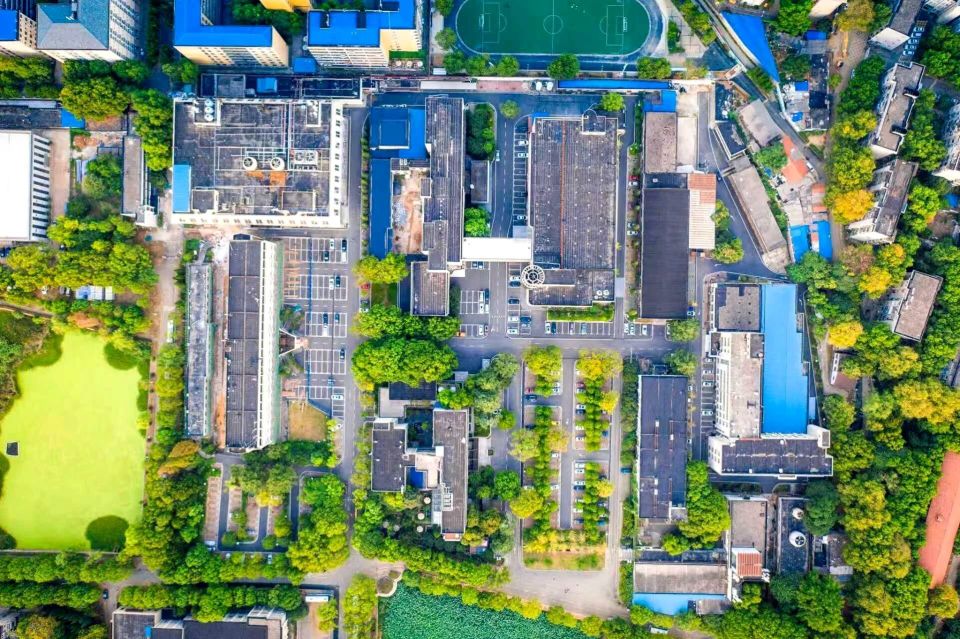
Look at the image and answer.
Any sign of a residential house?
Yes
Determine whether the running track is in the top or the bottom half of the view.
top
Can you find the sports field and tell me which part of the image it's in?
top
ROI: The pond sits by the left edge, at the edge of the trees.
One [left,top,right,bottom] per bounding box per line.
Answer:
[0,330,145,551]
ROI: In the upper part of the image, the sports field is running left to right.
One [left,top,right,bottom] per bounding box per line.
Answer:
[439,0,668,72]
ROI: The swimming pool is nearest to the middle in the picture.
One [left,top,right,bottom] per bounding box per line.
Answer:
[408,468,425,488]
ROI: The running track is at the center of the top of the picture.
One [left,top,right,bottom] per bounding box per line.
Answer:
[440,0,667,71]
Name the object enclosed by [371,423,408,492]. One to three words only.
house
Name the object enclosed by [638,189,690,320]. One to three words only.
building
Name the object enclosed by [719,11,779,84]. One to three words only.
shed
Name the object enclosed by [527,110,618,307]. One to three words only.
building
